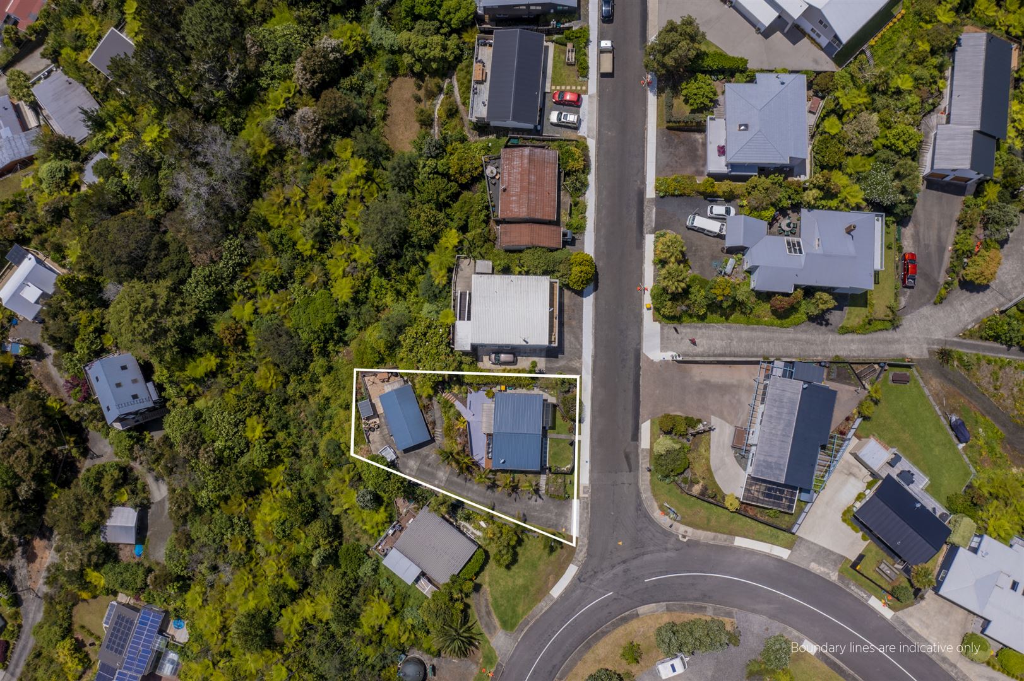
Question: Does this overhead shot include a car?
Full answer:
Yes, a car is visible in the scene.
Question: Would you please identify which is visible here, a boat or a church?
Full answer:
It is a boat that can be seen here.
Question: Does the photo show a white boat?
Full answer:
No, I can see no white boat in this picture.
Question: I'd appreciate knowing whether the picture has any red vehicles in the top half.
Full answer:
Yes, a red vehicle is visible in the top half.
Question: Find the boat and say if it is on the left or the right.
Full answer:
It is on the right.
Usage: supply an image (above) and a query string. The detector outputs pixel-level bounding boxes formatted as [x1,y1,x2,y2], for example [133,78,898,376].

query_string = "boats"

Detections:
[948,408,973,447]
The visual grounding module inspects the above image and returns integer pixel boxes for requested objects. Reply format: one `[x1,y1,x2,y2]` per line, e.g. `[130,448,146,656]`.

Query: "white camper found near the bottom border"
[655,655,689,681]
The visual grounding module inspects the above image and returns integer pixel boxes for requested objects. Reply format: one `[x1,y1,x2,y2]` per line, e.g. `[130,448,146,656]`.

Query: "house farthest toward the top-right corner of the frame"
[935,25,1021,140]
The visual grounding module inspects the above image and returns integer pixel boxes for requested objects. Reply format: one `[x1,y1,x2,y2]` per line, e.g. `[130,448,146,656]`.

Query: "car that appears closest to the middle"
[489,351,517,366]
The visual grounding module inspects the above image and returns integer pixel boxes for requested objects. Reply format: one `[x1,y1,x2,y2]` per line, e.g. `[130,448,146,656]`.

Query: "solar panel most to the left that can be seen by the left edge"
[5,243,30,267]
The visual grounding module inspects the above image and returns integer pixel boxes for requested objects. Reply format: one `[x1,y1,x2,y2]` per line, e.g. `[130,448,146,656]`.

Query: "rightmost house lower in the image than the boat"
[931,533,1024,654]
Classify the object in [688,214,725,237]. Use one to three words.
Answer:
vehicle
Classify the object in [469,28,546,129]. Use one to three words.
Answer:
house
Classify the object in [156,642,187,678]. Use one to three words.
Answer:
greenhouse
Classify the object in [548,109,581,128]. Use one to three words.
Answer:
car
